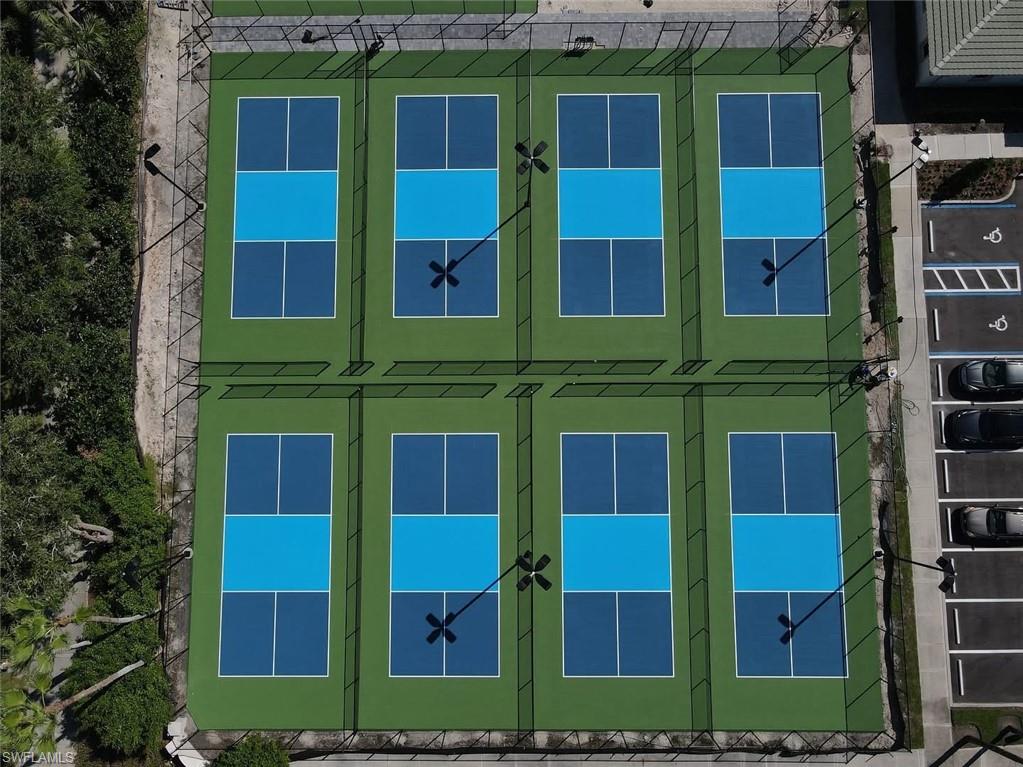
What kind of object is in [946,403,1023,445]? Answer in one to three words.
car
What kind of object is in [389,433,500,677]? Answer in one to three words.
sports court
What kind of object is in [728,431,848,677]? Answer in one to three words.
sports court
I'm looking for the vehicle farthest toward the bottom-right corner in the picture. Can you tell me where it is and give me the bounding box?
[958,503,1023,545]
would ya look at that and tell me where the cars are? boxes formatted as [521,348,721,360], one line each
[953,354,1023,394]
[946,403,1023,445]
[958,503,1023,545]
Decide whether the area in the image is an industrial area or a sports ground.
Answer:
sports ground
